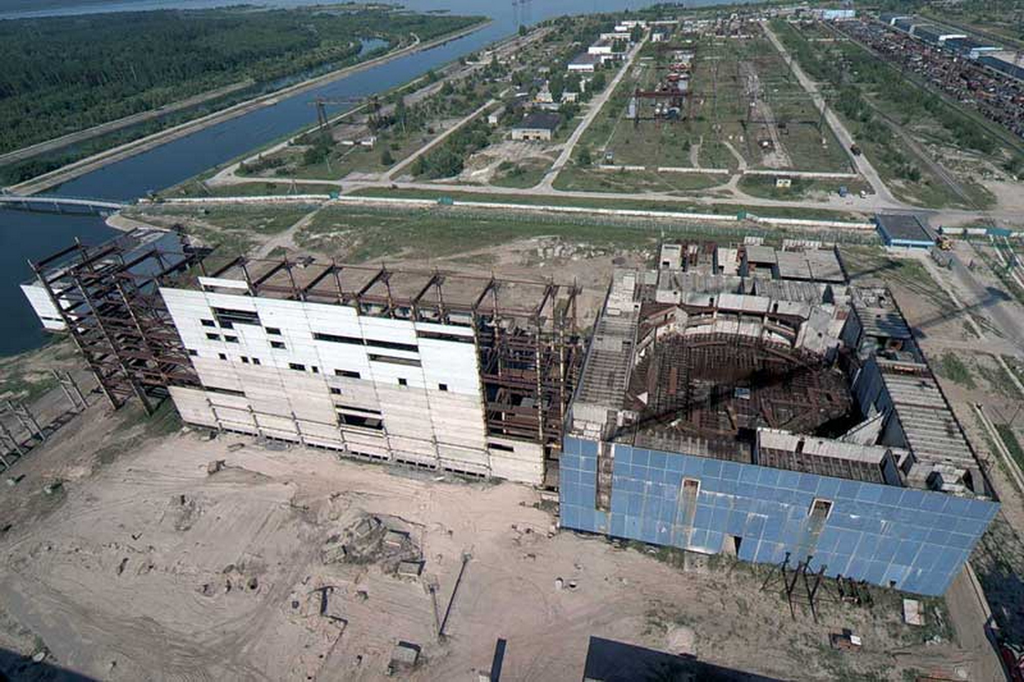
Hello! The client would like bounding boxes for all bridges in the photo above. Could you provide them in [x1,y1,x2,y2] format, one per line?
[0,192,130,215]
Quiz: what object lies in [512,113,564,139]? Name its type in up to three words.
building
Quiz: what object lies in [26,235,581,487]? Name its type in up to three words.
building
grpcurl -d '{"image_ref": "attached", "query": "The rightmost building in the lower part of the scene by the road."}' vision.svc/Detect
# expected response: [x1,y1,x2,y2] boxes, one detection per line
[563,266,999,594]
